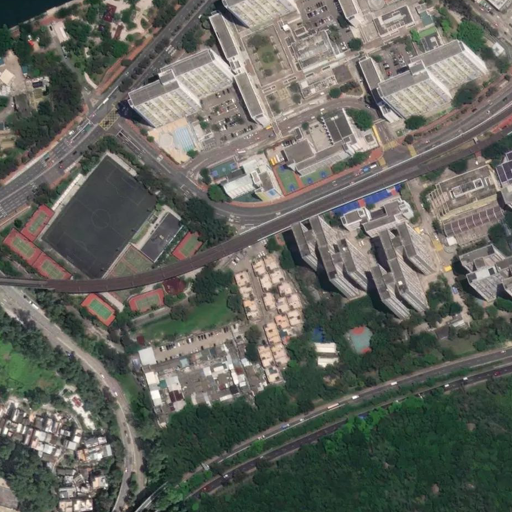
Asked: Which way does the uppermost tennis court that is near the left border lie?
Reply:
diagonally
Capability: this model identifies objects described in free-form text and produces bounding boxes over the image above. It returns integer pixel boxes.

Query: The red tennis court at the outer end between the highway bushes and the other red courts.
[2,229,40,264]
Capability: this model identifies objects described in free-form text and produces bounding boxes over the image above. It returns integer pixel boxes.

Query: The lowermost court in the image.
[350,326,372,354]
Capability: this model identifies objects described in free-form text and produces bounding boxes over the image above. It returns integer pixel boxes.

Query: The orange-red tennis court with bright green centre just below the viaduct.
[80,293,116,326]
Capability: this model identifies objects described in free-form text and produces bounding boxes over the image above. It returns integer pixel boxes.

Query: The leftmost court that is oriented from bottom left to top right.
[20,203,54,241]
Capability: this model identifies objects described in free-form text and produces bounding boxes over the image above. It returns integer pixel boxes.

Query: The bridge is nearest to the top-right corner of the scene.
[0,104,512,293]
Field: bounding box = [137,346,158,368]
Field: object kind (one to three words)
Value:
building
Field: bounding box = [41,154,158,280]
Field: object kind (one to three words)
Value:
soccer field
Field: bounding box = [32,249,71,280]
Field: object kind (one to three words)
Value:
tennis court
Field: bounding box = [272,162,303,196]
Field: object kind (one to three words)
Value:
basketball court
